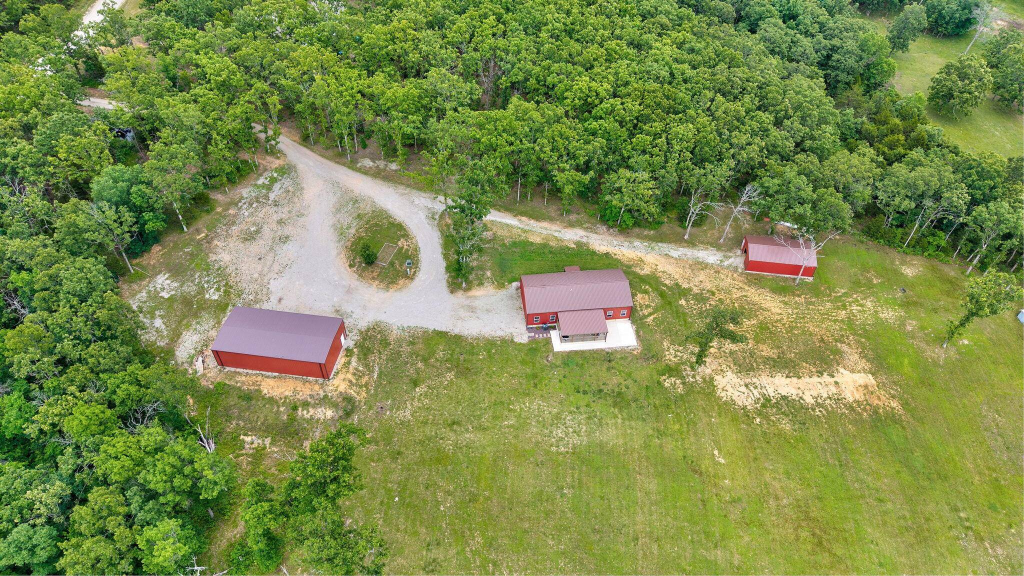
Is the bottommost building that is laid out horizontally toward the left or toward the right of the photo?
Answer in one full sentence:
It is on the left.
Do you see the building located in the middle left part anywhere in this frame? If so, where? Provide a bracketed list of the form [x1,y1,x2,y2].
[210,307,348,379]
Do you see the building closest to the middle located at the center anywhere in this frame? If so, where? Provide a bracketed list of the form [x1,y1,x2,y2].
[521,266,633,344]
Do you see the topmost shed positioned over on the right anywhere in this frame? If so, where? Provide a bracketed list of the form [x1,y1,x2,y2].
[743,236,818,278]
